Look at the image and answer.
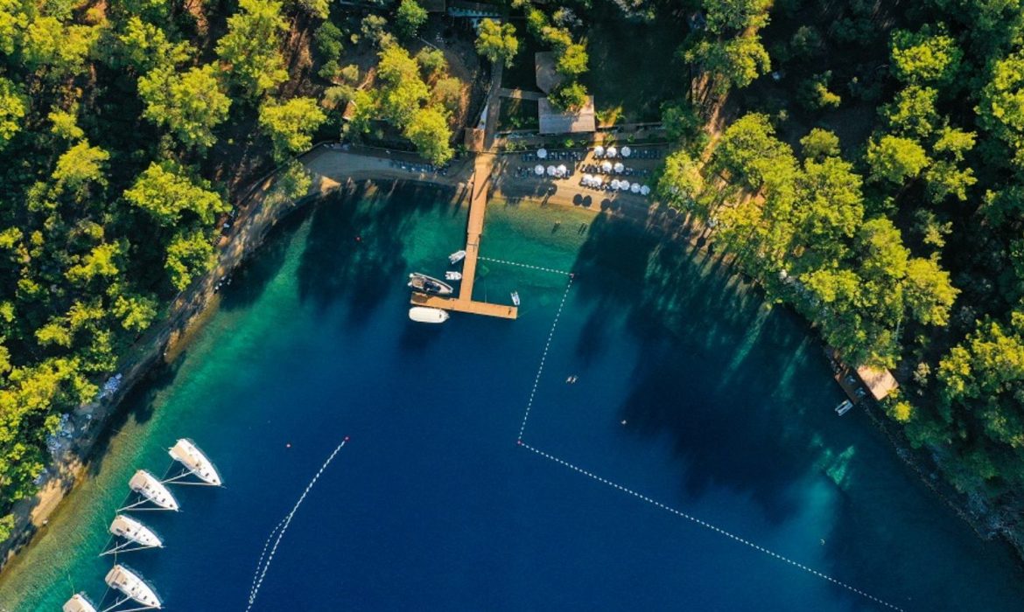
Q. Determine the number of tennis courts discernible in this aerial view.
0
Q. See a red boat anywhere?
No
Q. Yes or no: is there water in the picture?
Yes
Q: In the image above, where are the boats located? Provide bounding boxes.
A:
[409,306,451,321]
[112,457,185,516]
[59,594,98,612]
[407,274,453,292]
[99,566,159,612]
[156,429,219,487]
[448,250,465,264]
[444,271,462,280]
[93,515,168,555]
[510,290,519,304]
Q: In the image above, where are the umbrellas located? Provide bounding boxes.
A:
[611,179,620,189]
[607,147,617,157]
[534,164,545,175]
[536,148,547,158]
[620,180,630,190]
[593,146,604,156]
[602,161,612,171]
[582,174,592,184]
[620,147,631,157]
[639,185,650,195]
[630,183,640,193]
[556,165,566,175]
[614,163,624,173]
[592,176,602,186]
[546,165,556,175]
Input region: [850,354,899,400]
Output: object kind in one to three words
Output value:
shed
